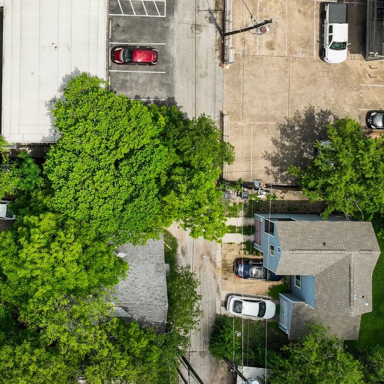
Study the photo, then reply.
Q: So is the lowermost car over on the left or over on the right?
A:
right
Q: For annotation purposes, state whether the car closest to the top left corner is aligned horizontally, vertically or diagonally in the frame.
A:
horizontally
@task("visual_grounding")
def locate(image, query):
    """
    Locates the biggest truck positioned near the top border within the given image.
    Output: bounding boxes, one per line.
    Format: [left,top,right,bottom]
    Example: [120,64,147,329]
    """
[321,2,350,64]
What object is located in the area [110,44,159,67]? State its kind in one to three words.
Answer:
car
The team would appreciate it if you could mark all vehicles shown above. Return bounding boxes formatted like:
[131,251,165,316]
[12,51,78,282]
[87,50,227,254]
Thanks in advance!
[0,200,19,220]
[233,258,282,281]
[363,109,384,132]
[110,44,159,67]
[321,2,350,64]
[225,295,275,321]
